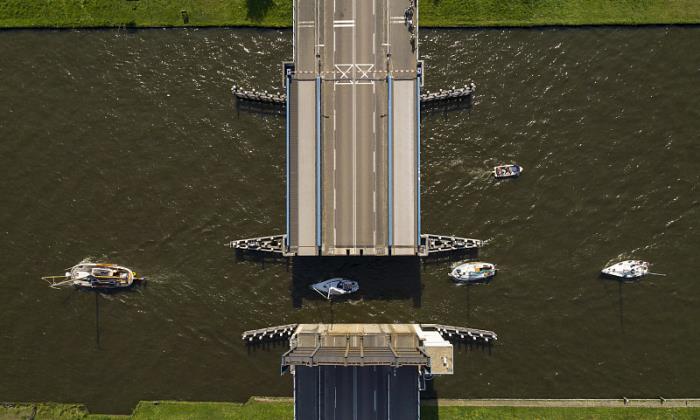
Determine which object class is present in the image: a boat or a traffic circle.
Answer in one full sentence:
Looking from above, you can make out a boat.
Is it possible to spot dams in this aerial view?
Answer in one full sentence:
No, the scene contains no dam.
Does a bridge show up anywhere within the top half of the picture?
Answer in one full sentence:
Yes, there is a bridge within the top half of the picture.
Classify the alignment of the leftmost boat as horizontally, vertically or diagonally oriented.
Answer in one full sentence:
In this picture, the leftmost boat is oriented horizontally.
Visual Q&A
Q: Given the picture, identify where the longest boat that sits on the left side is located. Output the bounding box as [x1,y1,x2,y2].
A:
[42,263,146,289]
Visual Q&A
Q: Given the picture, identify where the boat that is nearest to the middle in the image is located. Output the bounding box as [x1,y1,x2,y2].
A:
[312,278,359,298]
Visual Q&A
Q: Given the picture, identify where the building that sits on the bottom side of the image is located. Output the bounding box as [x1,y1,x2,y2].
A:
[420,329,454,389]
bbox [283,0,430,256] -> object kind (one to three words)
bridge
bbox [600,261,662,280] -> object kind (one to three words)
boat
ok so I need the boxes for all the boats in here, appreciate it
[42,263,146,289]
[312,278,359,298]
[448,262,497,281]
[600,261,662,280]
[492,165,523,179]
